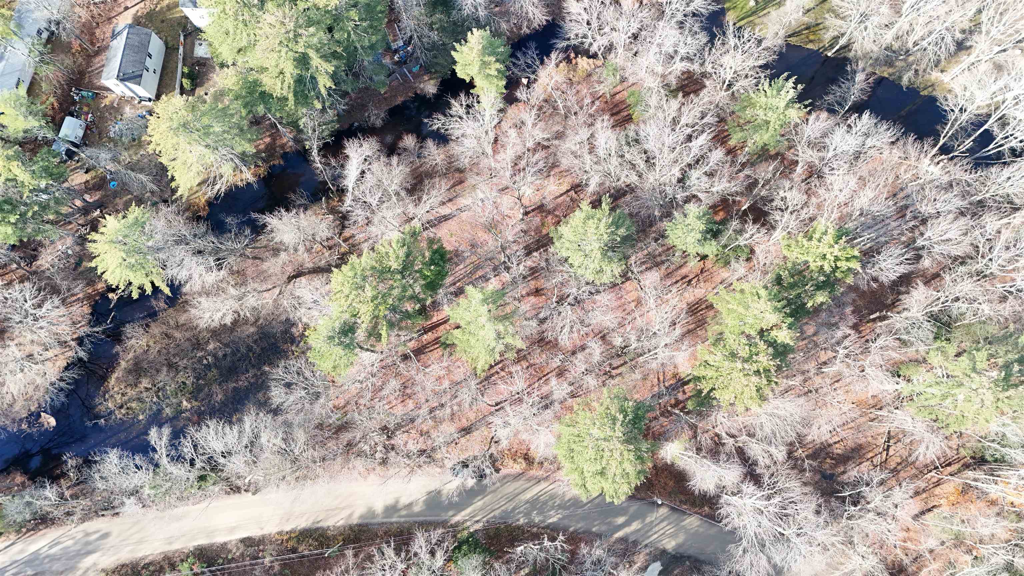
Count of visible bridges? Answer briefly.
none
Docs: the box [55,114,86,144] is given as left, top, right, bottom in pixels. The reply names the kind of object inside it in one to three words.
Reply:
shed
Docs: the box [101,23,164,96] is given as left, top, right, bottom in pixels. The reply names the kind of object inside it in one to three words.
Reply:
house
